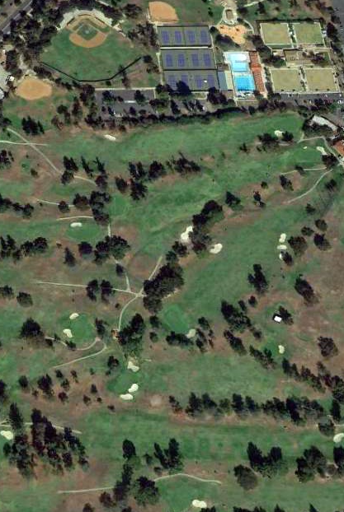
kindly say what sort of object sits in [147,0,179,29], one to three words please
baseball field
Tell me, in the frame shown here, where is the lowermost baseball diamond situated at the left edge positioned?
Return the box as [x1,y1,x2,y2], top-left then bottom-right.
[17,73,53,99]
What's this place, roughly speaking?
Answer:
golf course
